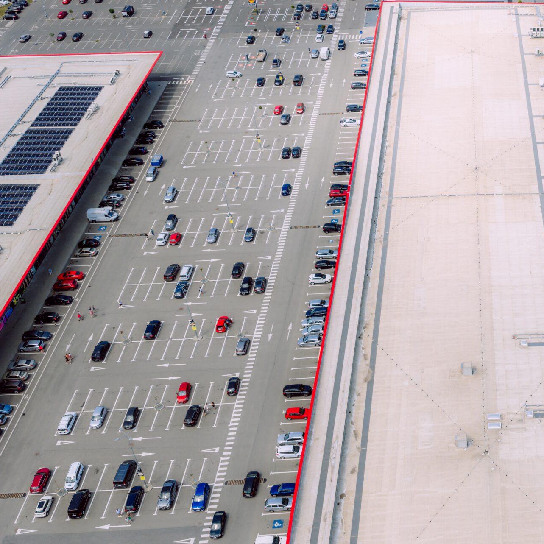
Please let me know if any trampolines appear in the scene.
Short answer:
No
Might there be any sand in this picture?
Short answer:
No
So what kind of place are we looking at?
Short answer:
parking lot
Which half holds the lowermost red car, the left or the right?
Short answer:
left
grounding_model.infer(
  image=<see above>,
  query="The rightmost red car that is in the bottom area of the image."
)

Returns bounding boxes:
[284,407,311,421]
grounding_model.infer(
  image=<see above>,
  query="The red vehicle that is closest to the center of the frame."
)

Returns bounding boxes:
[216,317,232,334]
